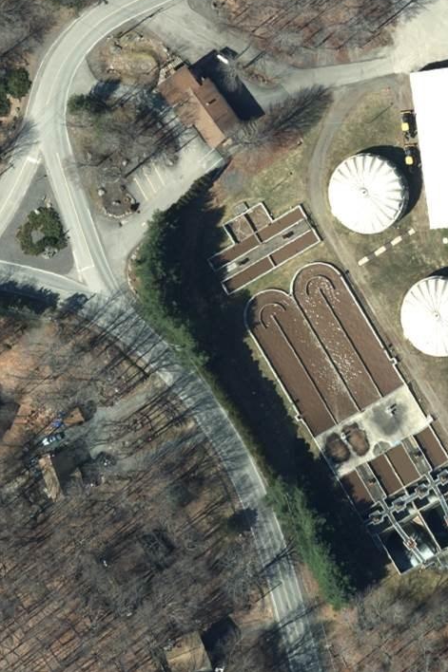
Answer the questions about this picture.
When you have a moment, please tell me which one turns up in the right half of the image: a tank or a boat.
tank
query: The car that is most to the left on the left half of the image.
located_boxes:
[25,450,42,470]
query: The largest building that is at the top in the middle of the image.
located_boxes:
[159,60,244,147]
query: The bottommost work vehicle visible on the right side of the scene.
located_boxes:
[402,138,416,165]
